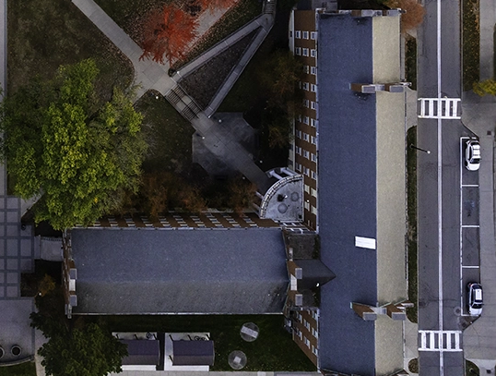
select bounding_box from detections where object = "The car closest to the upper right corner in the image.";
[463,138,482,171]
